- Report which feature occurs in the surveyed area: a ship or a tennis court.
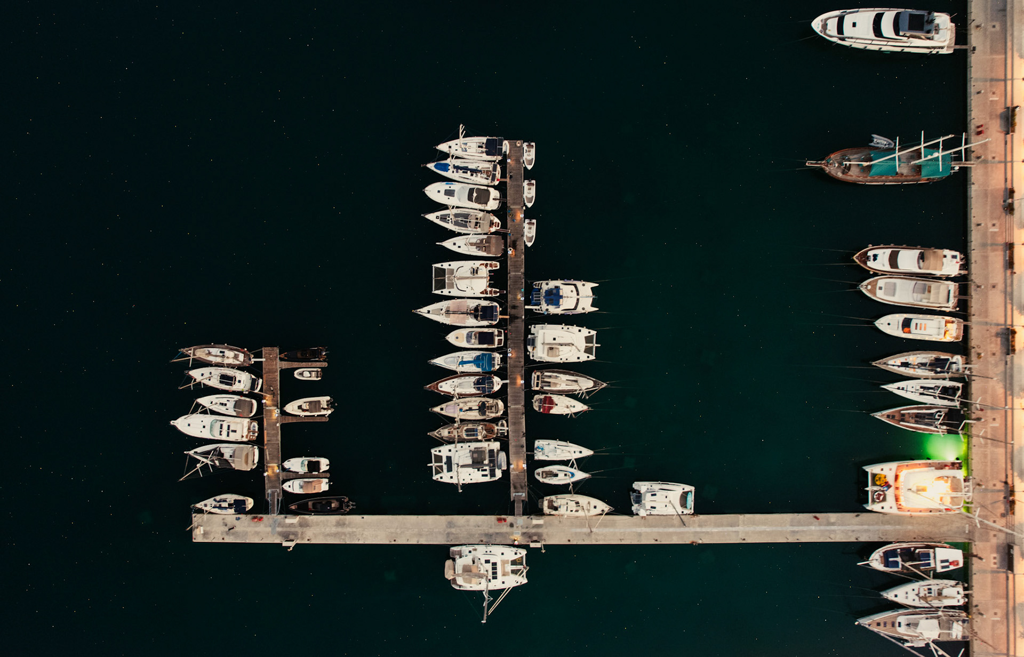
ship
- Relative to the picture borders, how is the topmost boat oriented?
horizontally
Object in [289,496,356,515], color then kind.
black boat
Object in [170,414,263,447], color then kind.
white boat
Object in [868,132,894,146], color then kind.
gray boat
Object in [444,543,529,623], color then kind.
white boat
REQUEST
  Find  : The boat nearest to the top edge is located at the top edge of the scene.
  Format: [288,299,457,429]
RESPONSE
[771,7,968,54]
